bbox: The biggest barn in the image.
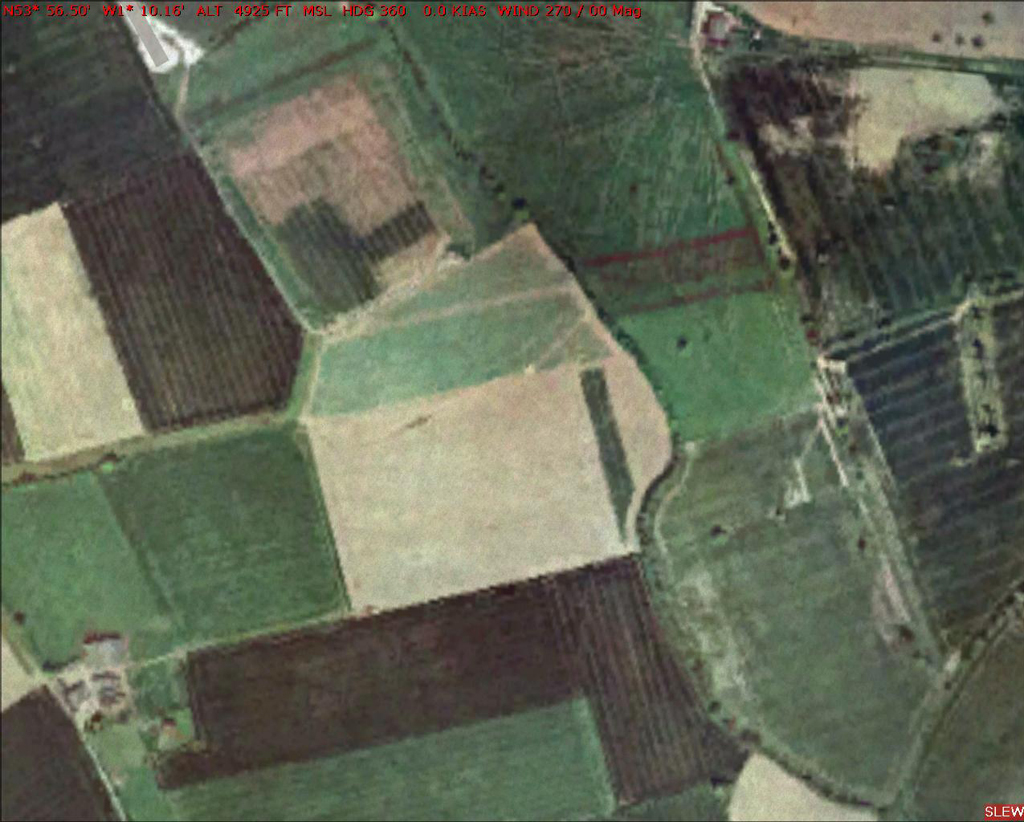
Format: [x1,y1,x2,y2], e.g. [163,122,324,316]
[88,640,127,664]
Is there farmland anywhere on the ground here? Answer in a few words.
Yes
